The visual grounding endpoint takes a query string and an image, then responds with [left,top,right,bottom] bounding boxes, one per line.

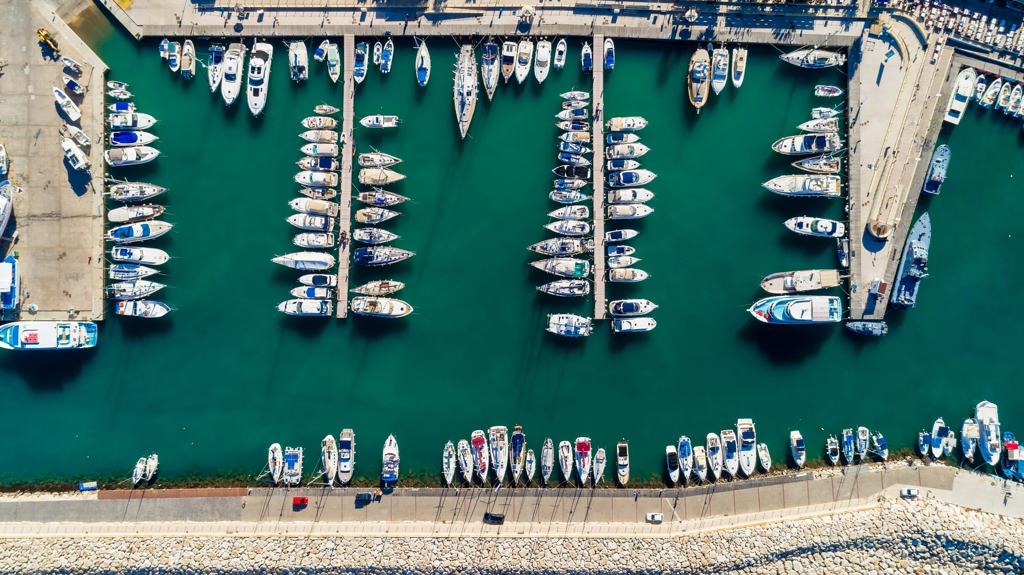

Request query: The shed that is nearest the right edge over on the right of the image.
[864,275,889,296]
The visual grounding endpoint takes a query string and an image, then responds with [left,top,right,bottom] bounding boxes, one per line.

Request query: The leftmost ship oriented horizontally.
[0,320,104,351]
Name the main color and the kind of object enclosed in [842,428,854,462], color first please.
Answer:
blue boat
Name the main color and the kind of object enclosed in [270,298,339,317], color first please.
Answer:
white boat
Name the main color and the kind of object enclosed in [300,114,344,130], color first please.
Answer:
white boat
